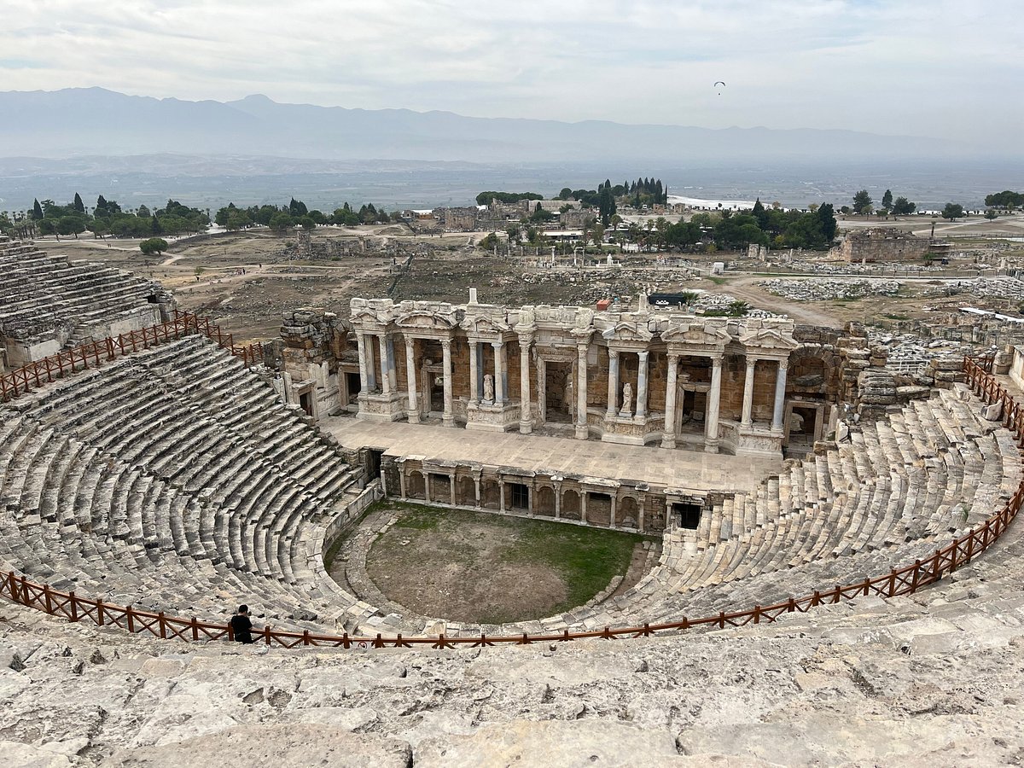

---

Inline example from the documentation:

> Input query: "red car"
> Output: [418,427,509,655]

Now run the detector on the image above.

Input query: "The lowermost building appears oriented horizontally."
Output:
[345,285,812,458]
